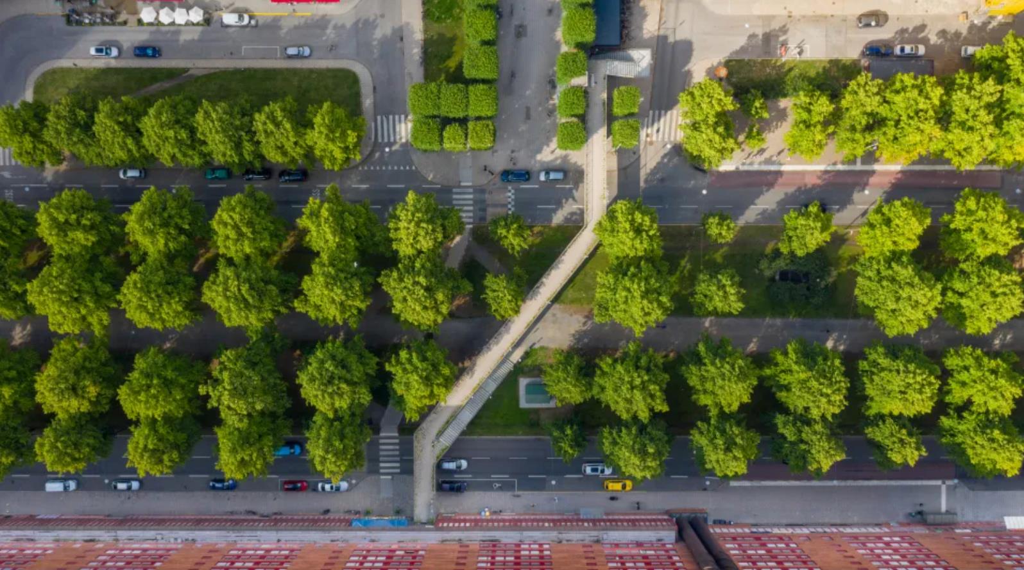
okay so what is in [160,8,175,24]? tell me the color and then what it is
white umbrella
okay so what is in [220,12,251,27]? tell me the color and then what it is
white car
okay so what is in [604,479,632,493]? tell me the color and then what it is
yellow car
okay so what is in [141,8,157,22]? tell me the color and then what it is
white umbrella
